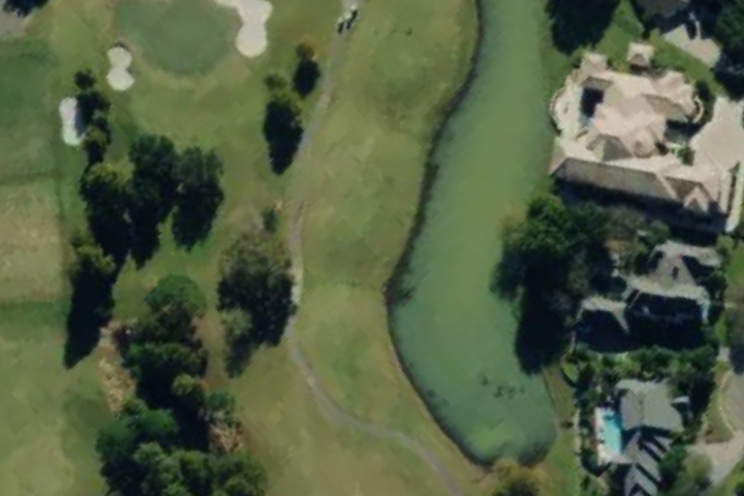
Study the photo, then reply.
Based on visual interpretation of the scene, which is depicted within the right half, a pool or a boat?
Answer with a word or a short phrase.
pool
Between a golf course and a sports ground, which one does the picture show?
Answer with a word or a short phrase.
golf course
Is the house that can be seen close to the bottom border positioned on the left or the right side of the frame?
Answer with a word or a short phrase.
right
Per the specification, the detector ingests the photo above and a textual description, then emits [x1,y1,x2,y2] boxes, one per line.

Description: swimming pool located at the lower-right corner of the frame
[601,411,623,453]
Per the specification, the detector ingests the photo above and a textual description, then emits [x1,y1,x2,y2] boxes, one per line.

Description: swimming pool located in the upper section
[580,89,604,127]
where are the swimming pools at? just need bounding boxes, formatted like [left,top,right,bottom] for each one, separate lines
[601,411,623,453]
[580,89,604,127]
